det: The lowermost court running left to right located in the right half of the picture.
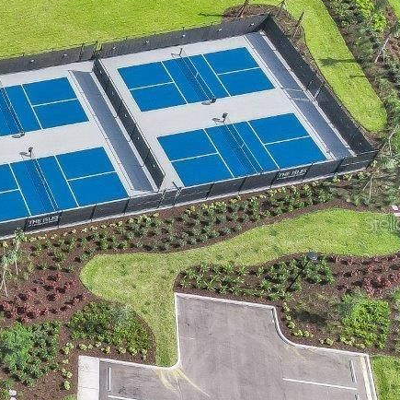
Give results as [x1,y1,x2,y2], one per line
[156,113,328,185]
